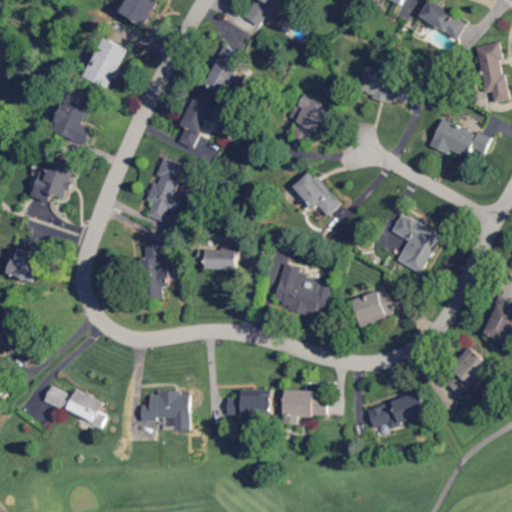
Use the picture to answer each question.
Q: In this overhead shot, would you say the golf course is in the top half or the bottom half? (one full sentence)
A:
You can find the golf course in the bottom half.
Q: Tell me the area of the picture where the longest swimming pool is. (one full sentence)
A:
Look in the top right portion of the view to spot the longest swimming pool.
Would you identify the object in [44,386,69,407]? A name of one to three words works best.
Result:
building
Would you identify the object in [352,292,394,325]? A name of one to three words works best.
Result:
house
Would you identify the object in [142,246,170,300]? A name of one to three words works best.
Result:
house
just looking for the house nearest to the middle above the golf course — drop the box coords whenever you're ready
[202,249,236,270]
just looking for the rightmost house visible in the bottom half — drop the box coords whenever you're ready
[484,295,512,338]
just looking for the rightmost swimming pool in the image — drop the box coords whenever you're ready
[413,27,458,50]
